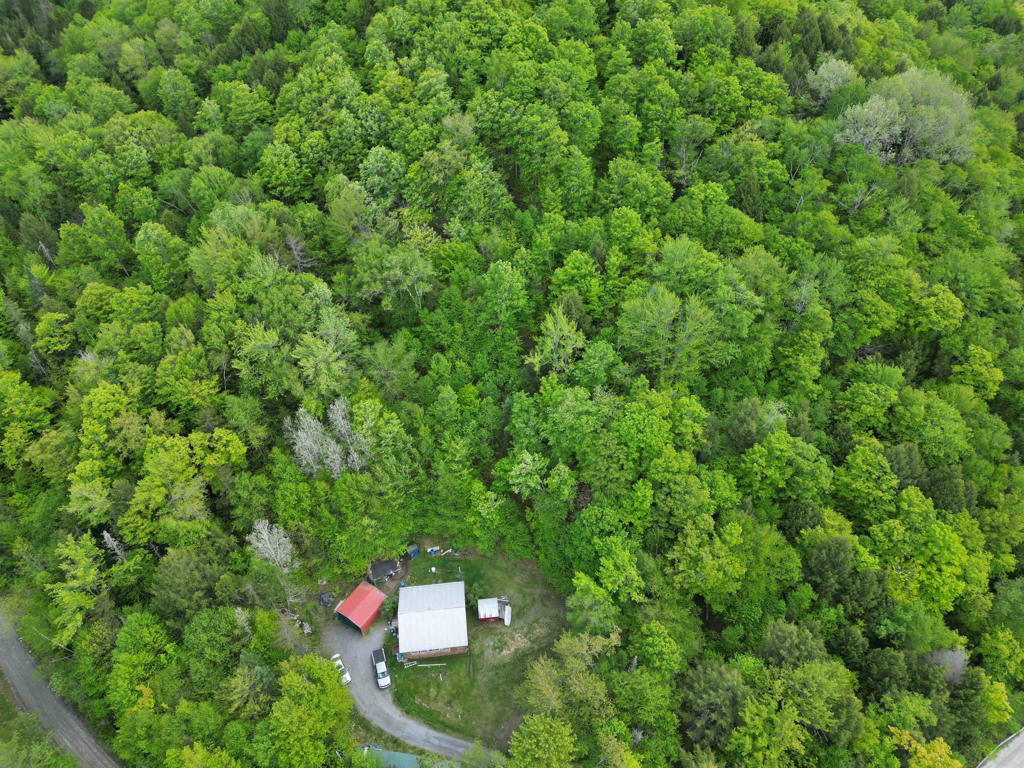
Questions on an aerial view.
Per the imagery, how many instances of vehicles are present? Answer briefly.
2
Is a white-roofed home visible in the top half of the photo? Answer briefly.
No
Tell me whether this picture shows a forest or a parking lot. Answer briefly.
forest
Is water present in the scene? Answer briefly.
No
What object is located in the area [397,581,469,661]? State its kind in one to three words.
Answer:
house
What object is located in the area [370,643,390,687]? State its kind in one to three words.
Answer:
vehicle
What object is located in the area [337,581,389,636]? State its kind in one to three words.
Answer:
building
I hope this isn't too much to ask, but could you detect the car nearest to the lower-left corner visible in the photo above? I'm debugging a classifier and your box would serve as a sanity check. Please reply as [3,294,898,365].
[327,650,349,685]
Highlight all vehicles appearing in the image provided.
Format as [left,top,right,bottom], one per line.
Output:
[370,643,390,687]
[327,650,349,685]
